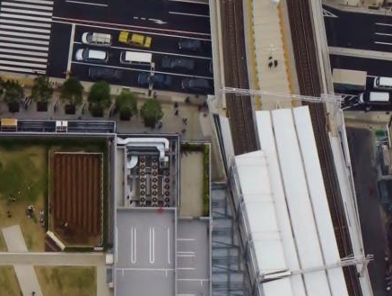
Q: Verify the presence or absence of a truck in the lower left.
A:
No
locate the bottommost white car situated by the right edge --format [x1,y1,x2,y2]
[361,89,391,104]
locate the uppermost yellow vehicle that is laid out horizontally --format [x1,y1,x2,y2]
[119,32,149,47]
